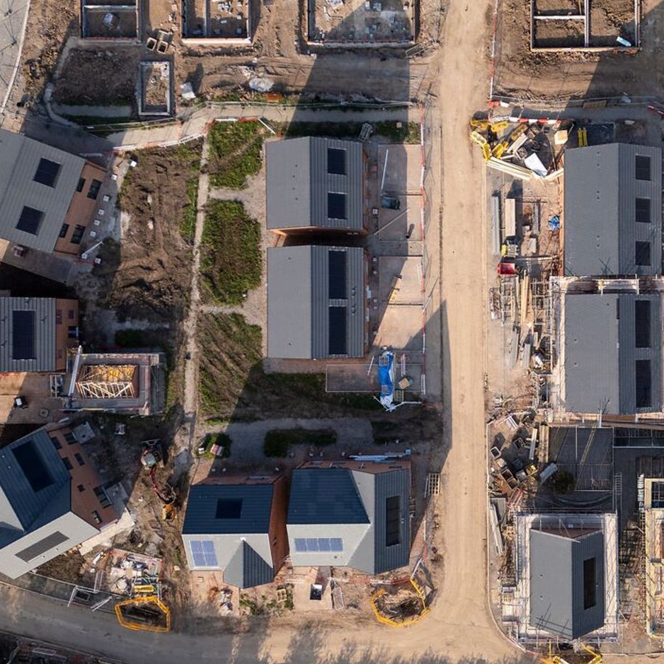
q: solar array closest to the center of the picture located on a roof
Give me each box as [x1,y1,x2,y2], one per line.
[329,307,346,353]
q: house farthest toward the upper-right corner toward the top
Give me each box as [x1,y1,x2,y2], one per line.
[559,143,662,276]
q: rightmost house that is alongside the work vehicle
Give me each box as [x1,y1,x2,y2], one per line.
[181,476,284,590]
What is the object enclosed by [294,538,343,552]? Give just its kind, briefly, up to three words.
solar array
